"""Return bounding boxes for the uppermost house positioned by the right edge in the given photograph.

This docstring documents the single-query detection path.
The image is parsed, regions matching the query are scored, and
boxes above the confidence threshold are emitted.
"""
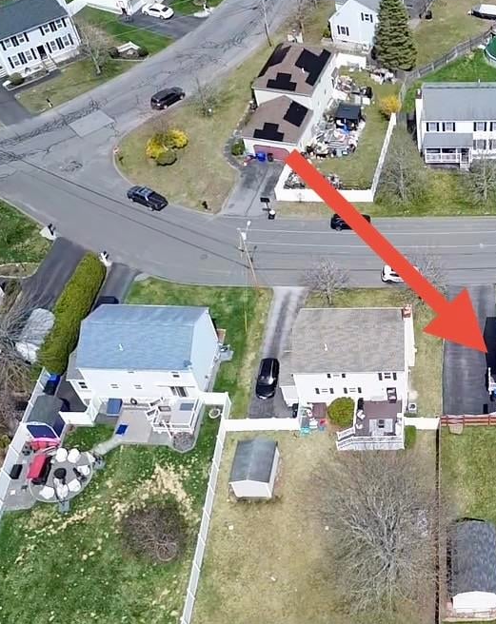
[416,76,496,174]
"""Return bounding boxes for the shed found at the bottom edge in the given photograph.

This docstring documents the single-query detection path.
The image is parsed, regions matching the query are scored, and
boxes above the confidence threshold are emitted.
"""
[452,528,496,616]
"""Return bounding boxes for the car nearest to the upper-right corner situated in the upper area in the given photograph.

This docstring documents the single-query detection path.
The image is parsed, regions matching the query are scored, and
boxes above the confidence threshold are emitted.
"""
[327,209,373,233]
